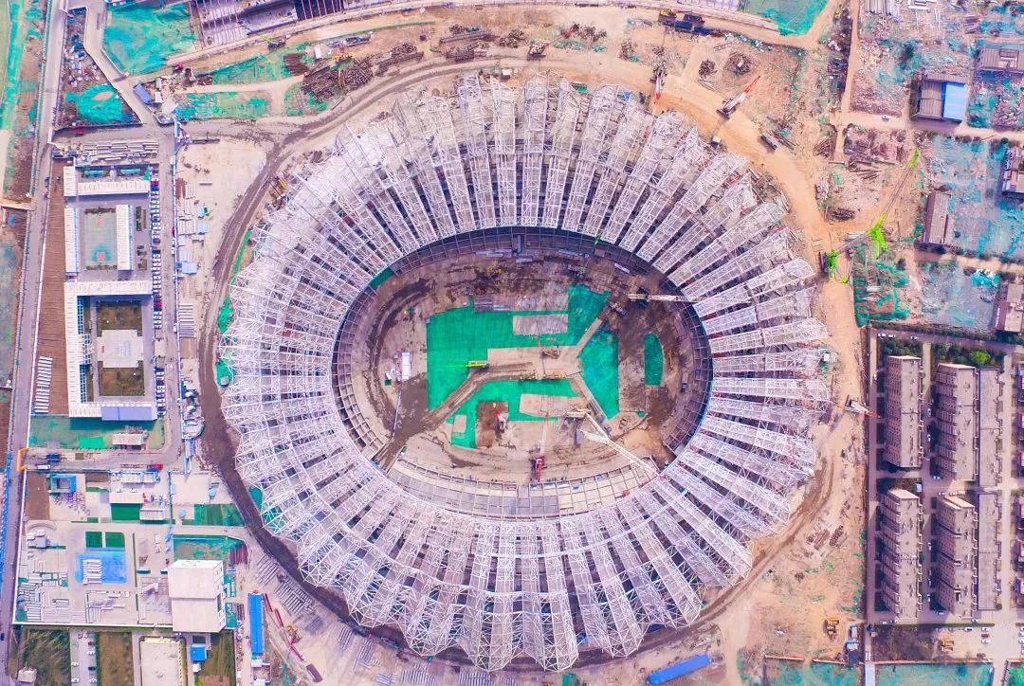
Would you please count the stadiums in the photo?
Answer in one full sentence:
I count just 1 stadium.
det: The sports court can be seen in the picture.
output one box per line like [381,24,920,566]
[85,213,116,265]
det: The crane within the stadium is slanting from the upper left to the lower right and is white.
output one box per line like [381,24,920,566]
[569,407,663,478]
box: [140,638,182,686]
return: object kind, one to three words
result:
building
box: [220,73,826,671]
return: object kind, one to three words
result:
stadium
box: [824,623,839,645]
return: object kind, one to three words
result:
work vehicle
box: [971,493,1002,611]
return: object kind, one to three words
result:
building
